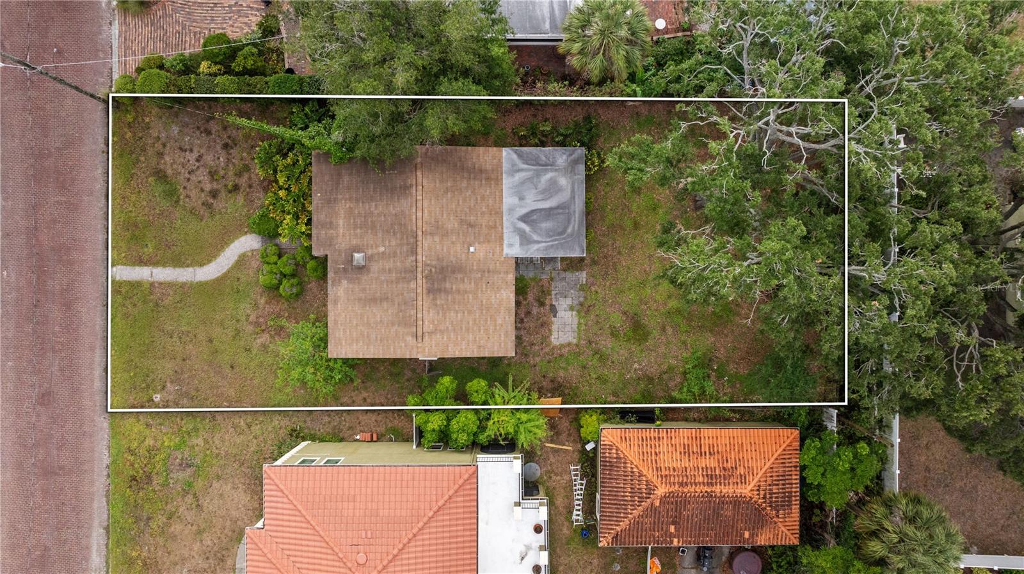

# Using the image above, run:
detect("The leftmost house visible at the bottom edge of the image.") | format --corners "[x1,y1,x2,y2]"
[244,442,549,574]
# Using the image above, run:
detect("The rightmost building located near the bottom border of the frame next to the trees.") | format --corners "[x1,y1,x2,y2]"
[595,422,800,547]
